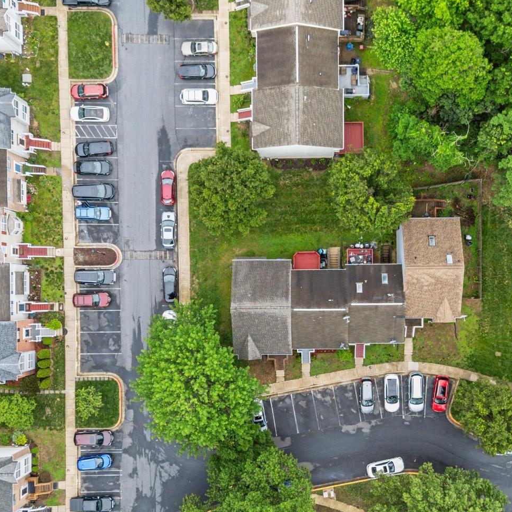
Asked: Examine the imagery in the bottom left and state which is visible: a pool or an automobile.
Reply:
automobile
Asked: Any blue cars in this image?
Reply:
Yes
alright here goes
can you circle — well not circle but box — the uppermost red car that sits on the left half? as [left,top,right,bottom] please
[73,82,110,101]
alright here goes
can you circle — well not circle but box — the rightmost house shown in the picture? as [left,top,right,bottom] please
[397,198,465,337]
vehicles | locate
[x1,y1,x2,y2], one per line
[76,139,115,157]
[179,62,217,81]
[358,376,376,414]
[180,86,219,105]
[74,158,113,176]
[75,429,115,448]
[159,170,177,206]
[74,291,113,309]
[407,371,426,412]
[73,181,116,200]
[75,268,117,287]
[161,310,179,344]
[70,494,116,512]
[159,211,177,249]
[61,0,112,7]
[382,373,400,412]
[78,453,114,471]
[431,374,449,412]
[73,105,111,123]
[73,82,110,101]
[76,199,113,222]
[182,39,219,58]
[366,455,405,477]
